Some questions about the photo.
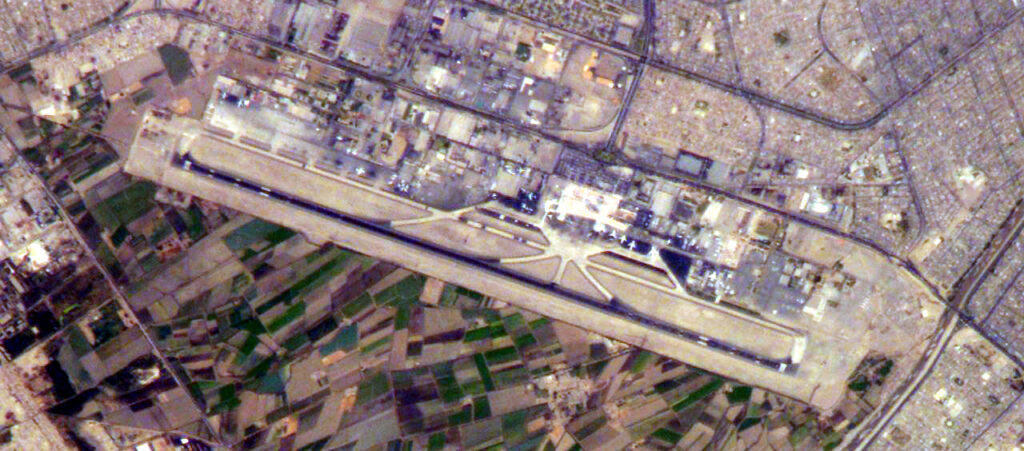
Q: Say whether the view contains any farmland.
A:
Yes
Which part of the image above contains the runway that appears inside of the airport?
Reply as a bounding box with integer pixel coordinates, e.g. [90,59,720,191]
[170,151,801,377]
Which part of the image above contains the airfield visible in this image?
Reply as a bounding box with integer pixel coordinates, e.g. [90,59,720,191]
[125,74,866,408]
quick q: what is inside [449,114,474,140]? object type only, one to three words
building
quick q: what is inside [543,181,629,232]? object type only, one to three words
building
